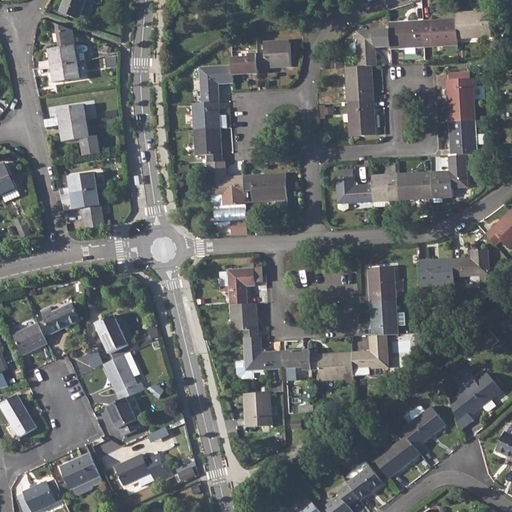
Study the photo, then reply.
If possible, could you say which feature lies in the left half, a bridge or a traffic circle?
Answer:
traffic circle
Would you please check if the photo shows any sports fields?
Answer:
No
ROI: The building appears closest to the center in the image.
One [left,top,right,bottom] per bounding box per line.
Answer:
[219,266,268,304]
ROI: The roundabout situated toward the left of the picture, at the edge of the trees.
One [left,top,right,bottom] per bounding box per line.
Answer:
[130,216,190,280]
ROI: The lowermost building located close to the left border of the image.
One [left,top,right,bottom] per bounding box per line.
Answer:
[17,482,54,512]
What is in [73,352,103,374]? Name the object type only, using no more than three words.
shed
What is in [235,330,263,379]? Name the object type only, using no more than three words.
house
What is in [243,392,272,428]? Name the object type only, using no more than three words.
house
